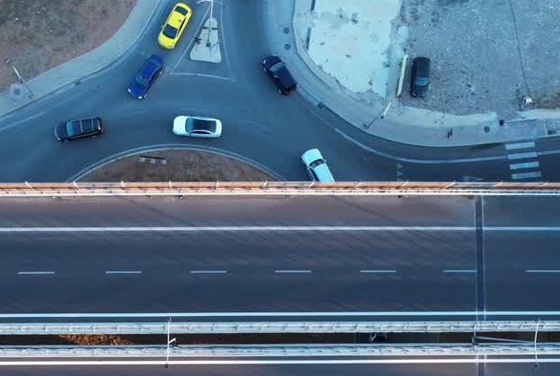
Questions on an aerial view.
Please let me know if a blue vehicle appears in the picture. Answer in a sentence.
Yes, this view includes a blue vehicle.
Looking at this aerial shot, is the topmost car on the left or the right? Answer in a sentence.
The topmost car is on the left side of the image.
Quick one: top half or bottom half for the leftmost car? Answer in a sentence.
It is in the top half that the leftmost car appears.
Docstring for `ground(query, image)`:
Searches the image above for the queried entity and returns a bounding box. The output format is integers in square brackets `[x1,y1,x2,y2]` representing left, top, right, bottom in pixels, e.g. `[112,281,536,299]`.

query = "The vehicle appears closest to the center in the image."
[304,148,340,186]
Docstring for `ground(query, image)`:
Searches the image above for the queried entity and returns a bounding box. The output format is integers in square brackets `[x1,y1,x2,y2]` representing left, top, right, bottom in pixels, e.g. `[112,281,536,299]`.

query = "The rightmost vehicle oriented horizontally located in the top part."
[172,114,221,139]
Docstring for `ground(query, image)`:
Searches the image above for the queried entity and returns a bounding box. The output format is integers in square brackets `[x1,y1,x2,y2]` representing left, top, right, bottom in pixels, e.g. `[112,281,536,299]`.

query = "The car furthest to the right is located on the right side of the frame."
[408,56,431,101]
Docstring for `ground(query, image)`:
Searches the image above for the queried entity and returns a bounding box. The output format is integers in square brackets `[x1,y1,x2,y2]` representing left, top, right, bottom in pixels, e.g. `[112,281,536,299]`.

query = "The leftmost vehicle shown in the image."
[55,115,105,143]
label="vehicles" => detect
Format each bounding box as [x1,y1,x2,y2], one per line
[172,114,221,139]
[260,54,299,100]
[304,148,340,186]
[408,56,431,101]
[160,1,192,51]
[128,53,164,102]
[55,115,105,143]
